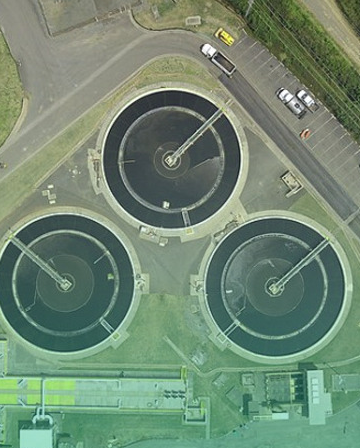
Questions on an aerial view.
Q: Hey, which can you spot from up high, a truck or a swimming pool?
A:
truck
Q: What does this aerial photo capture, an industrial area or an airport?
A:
industrial area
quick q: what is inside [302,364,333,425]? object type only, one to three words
building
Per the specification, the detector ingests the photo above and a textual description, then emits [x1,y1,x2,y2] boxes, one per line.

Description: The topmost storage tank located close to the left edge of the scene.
[0,206,144,362]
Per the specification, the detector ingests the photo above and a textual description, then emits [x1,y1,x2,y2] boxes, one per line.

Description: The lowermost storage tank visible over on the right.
[198,210,352,365]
